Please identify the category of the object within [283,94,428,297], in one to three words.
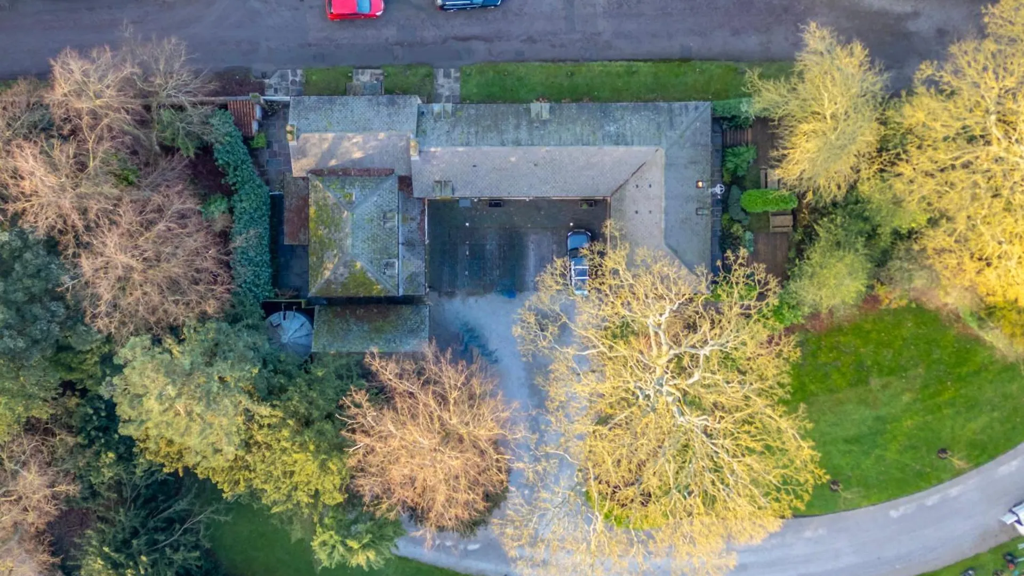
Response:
house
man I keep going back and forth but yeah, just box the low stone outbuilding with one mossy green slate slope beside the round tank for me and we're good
[310,305,431,353]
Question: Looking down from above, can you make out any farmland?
No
